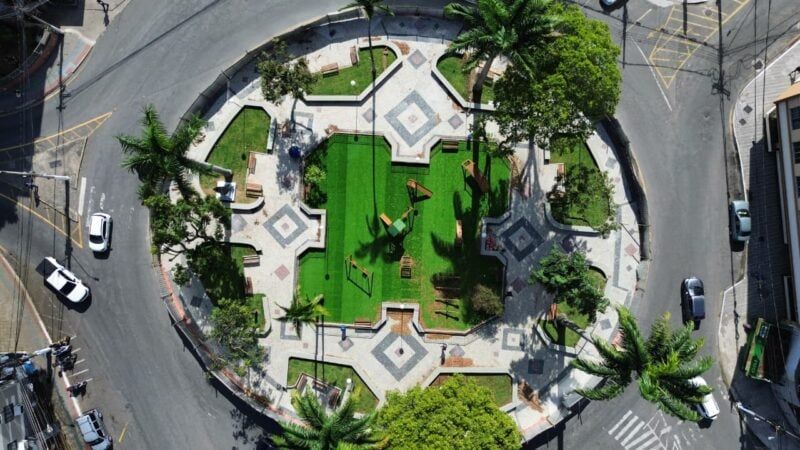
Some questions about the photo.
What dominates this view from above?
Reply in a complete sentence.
The bulk of the photo consists of paved ground.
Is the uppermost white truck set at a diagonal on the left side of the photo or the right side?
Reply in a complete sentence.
It is on the left.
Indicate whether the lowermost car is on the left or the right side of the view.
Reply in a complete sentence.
You can find the lowermost car on the left side of the picture.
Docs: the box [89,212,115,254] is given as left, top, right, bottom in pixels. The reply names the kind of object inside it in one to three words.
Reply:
car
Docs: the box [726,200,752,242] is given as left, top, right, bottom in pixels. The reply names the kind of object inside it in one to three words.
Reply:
car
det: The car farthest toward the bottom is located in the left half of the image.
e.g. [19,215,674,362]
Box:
[78,409,115,450]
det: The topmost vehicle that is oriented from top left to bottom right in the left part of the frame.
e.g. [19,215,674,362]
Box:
[41,257,96,304]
